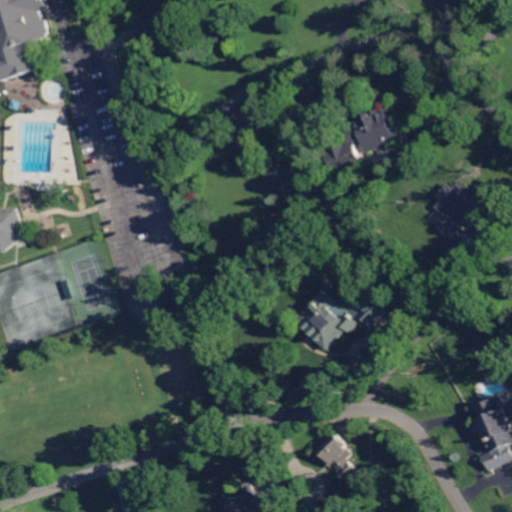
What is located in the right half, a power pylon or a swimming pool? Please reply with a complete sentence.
You can see a swimming pool in the right half.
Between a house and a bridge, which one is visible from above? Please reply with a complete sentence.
There is a house in the scene.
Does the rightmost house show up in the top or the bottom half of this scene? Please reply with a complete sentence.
The bottom half of the photo is where the rightmost house is.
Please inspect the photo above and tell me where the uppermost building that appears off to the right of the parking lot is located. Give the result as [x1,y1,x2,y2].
[326,112,398,166]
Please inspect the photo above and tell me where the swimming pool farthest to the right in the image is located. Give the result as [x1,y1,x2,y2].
[474,381,510,402]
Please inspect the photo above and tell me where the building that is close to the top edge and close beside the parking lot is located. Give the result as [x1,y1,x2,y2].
[0,0,50,84]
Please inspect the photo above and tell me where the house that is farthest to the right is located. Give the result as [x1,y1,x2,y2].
[477,406,512,474]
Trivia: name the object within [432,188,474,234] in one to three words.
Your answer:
house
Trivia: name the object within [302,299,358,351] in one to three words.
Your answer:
house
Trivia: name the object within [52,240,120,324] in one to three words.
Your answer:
tennis court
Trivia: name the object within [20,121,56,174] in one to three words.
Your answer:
swimming pool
